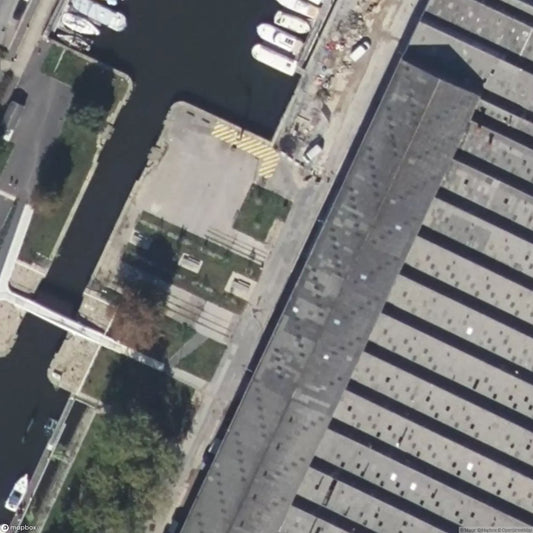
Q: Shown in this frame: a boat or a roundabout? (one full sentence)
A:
I can see a boat in this picture.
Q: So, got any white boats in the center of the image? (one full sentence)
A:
No, no white boat is visible in the center of the image.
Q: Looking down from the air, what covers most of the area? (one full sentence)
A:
The scene is dominated by buildings.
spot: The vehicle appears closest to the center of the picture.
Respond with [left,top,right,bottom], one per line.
[302,143,323,163]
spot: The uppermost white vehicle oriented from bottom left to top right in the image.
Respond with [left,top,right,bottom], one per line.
[350,40,368,62]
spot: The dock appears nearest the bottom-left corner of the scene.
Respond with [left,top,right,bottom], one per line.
[4,445,54,533]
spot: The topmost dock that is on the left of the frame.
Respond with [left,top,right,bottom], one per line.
[46,0,71,34]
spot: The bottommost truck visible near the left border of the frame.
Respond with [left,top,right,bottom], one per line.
[2,100,24,139]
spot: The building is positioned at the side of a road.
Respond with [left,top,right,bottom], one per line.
[176,0,533,533]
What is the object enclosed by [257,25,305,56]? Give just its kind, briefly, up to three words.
boat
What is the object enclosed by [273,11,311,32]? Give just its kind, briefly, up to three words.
boat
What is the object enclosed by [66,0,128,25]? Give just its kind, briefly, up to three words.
ship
